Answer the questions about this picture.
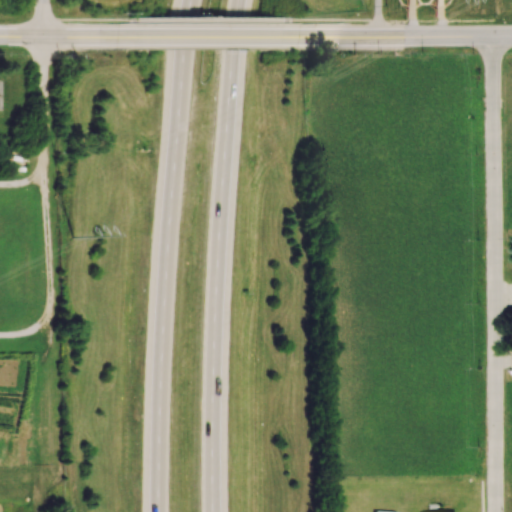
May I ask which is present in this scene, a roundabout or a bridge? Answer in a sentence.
Visible in the photo is a bridge.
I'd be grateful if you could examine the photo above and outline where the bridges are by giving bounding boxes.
[131,17,290,50]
